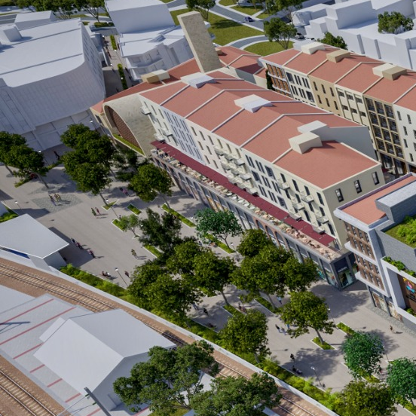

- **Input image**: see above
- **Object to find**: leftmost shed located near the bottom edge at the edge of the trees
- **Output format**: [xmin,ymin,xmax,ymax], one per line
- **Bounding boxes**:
[33,311,181,412]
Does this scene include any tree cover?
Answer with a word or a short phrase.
Yes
